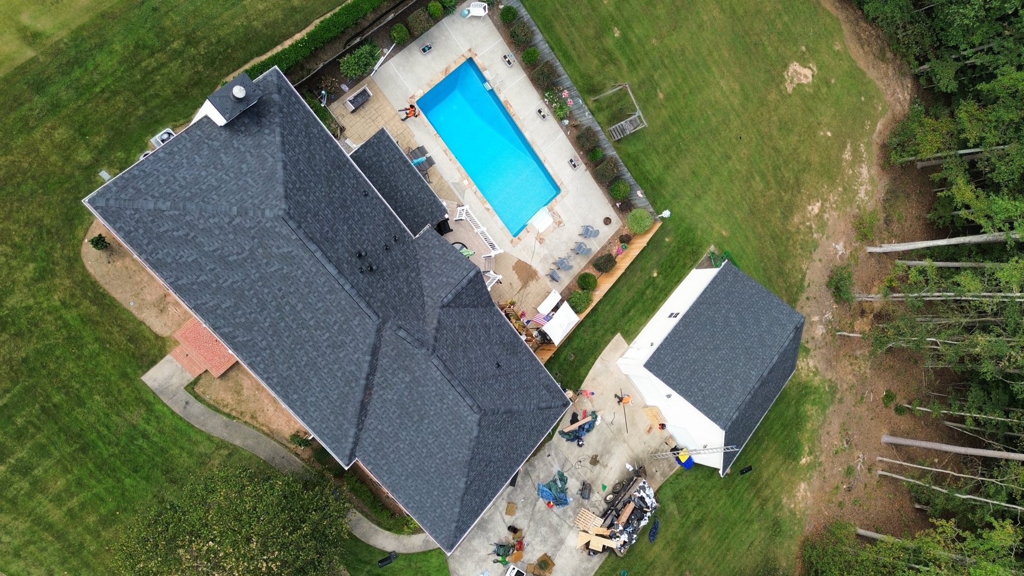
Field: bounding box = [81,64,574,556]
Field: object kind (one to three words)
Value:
house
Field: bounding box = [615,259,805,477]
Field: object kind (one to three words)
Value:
building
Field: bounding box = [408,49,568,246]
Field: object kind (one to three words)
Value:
swimming pool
